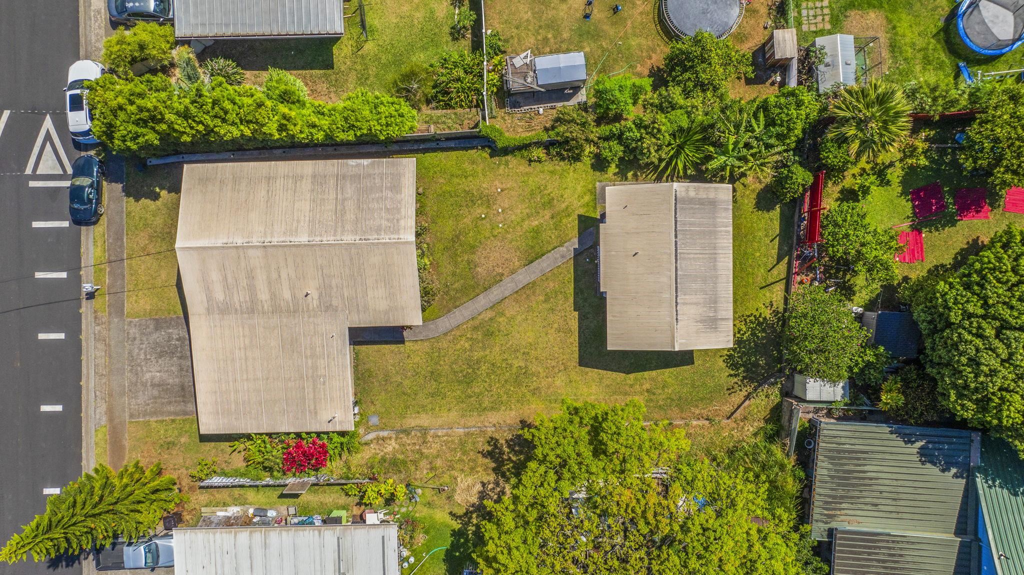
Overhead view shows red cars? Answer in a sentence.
No, there is no red car in the image.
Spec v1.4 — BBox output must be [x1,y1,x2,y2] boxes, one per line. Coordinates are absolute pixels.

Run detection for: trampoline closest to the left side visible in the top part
[658,0,744,42]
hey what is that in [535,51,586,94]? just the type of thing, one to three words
shed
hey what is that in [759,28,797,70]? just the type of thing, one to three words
shed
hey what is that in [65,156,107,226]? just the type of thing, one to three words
car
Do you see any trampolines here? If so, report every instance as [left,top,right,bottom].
[658,0,744,42]
[956,0,1024,53]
